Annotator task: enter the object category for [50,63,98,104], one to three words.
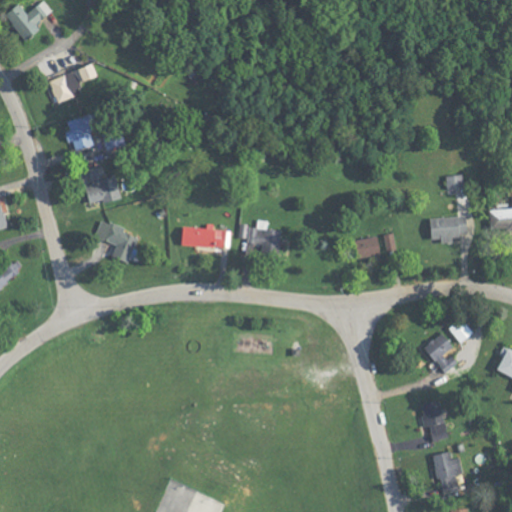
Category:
house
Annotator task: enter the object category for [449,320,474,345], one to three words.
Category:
building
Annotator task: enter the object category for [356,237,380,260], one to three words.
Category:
house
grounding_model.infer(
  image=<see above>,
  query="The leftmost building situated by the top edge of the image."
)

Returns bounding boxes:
[7,0,52,40]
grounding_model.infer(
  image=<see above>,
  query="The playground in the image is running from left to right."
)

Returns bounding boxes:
[234,336,273,354]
